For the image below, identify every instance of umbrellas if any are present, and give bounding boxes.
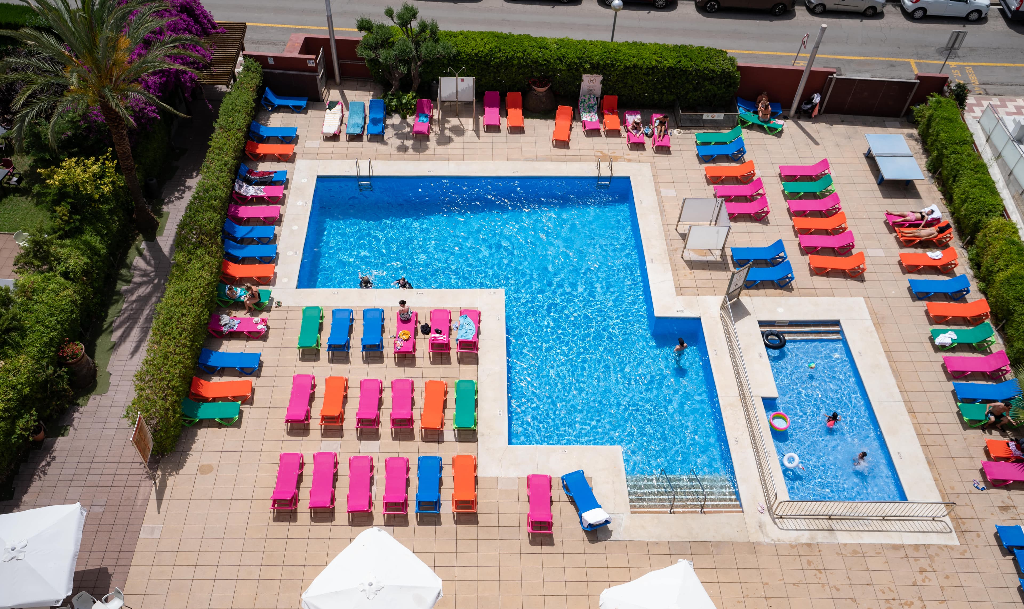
[595,556,718,609]
[297,527,449,609]
[0,500,86,609]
